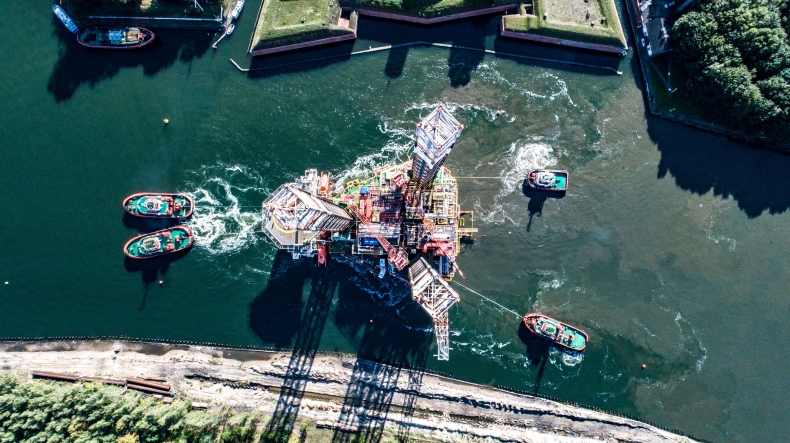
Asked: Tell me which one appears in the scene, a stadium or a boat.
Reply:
boat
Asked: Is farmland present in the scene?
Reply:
No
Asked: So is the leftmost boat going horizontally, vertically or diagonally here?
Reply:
diagonally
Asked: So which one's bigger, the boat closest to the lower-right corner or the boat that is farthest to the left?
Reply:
the boat closest to the lower-right corner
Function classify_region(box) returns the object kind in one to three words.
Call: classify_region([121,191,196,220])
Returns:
boat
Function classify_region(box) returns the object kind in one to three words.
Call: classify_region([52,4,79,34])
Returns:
boat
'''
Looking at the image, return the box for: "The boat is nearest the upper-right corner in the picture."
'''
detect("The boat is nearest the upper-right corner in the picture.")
[526,168,569,191]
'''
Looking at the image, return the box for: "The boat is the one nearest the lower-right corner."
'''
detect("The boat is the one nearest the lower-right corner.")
[522,311,591,353]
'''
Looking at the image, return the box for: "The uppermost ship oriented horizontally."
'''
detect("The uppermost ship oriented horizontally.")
[77,26,157,49]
